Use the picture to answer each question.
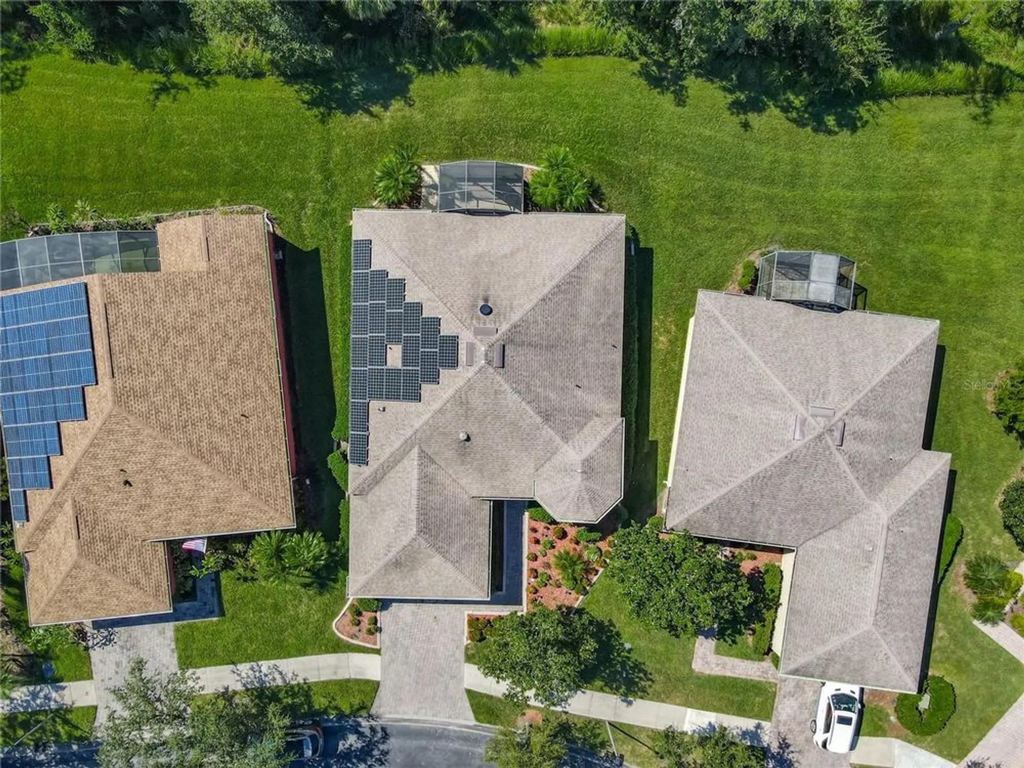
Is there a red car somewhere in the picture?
No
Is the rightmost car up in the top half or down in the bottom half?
bottom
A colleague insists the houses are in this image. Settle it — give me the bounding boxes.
[662,287,953,696]
[0,211,304,627]
[346,207,633,601]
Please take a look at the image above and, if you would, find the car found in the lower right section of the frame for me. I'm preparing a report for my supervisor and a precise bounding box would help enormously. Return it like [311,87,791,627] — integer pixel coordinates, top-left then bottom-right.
[810,682,859,752]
